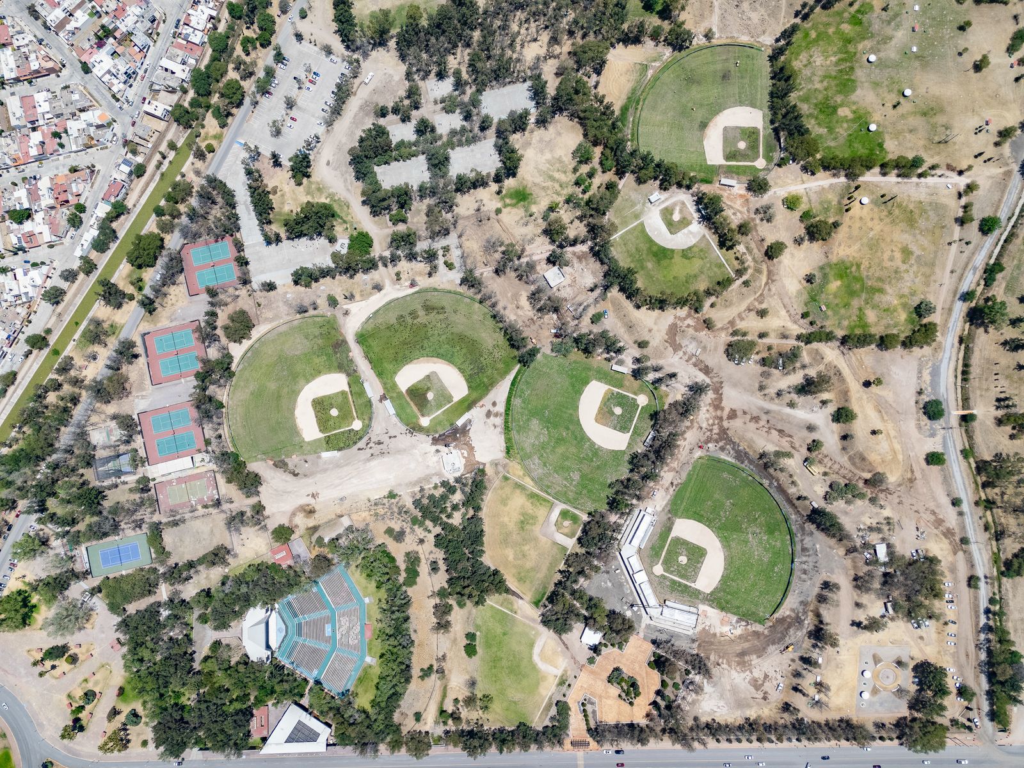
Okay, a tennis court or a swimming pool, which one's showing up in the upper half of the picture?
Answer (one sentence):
There is a tennis court in the upper half of the picture.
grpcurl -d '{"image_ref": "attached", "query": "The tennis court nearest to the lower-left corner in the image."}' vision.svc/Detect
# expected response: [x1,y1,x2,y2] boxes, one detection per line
[84,533,151,579]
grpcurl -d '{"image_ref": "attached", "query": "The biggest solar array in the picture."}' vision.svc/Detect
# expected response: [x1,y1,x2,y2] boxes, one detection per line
[285,720,321,743]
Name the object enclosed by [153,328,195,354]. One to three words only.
tennis court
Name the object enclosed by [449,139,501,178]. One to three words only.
sports court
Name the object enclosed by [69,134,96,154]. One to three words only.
house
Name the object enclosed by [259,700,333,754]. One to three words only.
building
